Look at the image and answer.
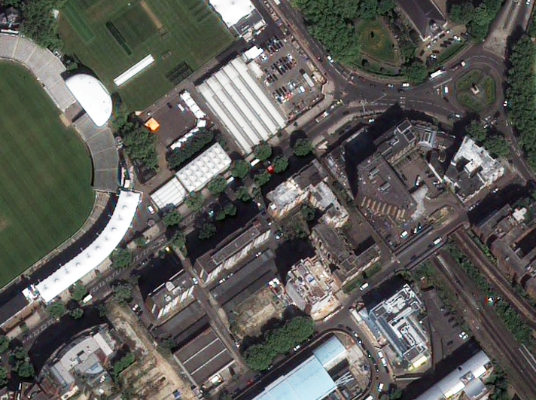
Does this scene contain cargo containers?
No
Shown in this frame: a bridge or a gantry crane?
bridge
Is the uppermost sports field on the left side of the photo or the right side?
left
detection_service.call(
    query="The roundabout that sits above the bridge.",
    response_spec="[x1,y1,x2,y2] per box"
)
[455,67,496,110]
